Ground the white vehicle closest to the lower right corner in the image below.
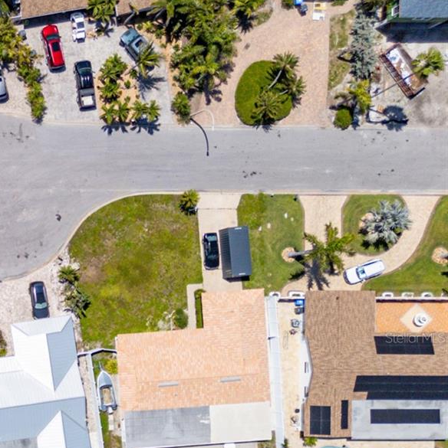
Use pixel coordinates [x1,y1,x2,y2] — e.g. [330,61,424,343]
[337,259,383,285]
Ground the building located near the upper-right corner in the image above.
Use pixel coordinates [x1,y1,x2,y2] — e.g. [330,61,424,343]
[374,0,448,32]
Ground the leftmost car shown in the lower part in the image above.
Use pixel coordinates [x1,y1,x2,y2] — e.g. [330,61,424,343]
[29,280,52,320]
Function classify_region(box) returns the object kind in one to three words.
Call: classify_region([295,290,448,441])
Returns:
house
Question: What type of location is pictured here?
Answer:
residential area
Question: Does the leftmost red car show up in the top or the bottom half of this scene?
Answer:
top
